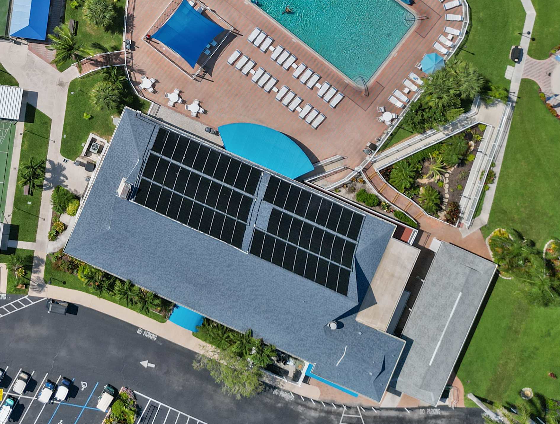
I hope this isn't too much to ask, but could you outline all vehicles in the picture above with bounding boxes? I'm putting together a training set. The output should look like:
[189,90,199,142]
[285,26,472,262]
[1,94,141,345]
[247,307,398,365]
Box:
[98,383,114,408]
[13,369,30,394]
[45,297,68,314]
[38,377,55,405]
[54,375,72,401]
[0,395,16,424]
